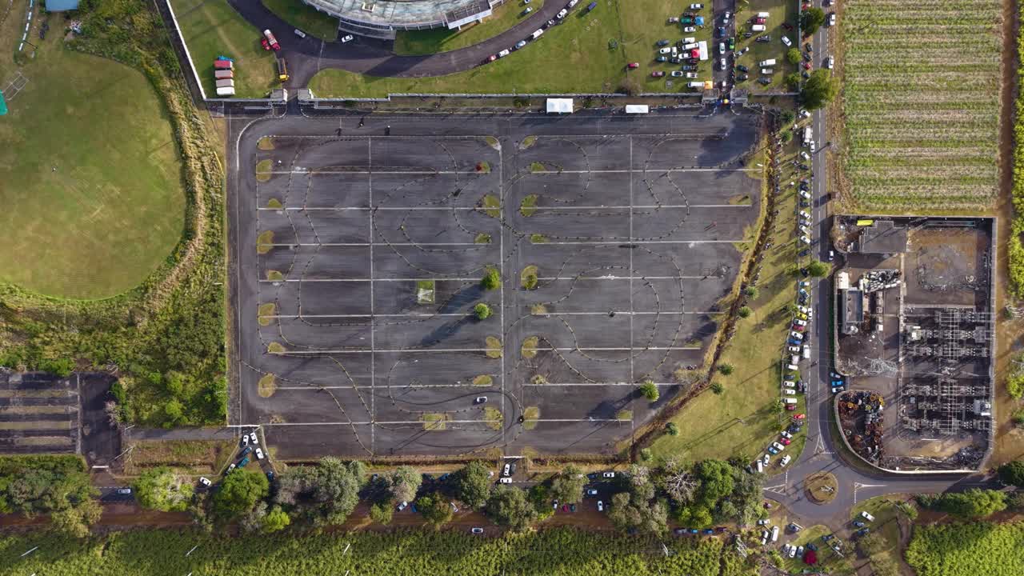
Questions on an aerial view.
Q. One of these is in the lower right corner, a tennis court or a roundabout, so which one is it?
roundabout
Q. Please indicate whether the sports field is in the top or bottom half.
top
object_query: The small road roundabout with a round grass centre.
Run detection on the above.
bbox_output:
[787,453,856,522]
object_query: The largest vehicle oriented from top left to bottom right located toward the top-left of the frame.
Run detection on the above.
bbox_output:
[265,31,282,53]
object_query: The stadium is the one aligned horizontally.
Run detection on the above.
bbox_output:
[297,0,503,41]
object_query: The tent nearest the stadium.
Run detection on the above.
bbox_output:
[546,98,573,114]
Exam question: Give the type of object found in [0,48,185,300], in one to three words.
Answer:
sports field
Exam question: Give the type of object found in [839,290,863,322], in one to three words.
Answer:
building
